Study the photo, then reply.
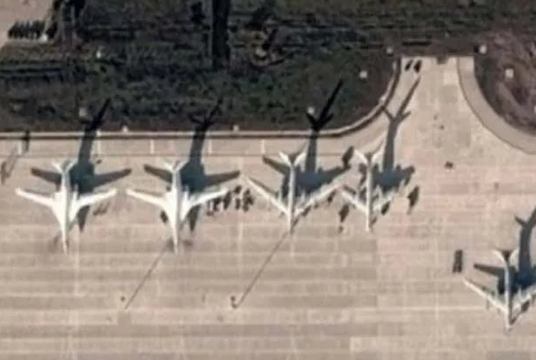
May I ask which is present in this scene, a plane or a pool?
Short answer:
plane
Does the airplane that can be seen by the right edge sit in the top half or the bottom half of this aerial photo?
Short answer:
bottom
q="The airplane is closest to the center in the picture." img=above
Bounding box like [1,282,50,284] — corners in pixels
[247,151,334,233]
